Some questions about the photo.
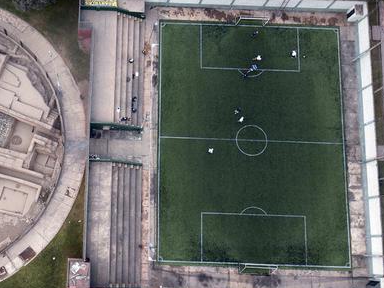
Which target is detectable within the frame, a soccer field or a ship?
soccer field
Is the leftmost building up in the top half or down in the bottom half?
bottom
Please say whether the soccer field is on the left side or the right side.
right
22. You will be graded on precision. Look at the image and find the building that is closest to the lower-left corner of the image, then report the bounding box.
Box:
[66,258,91,288]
